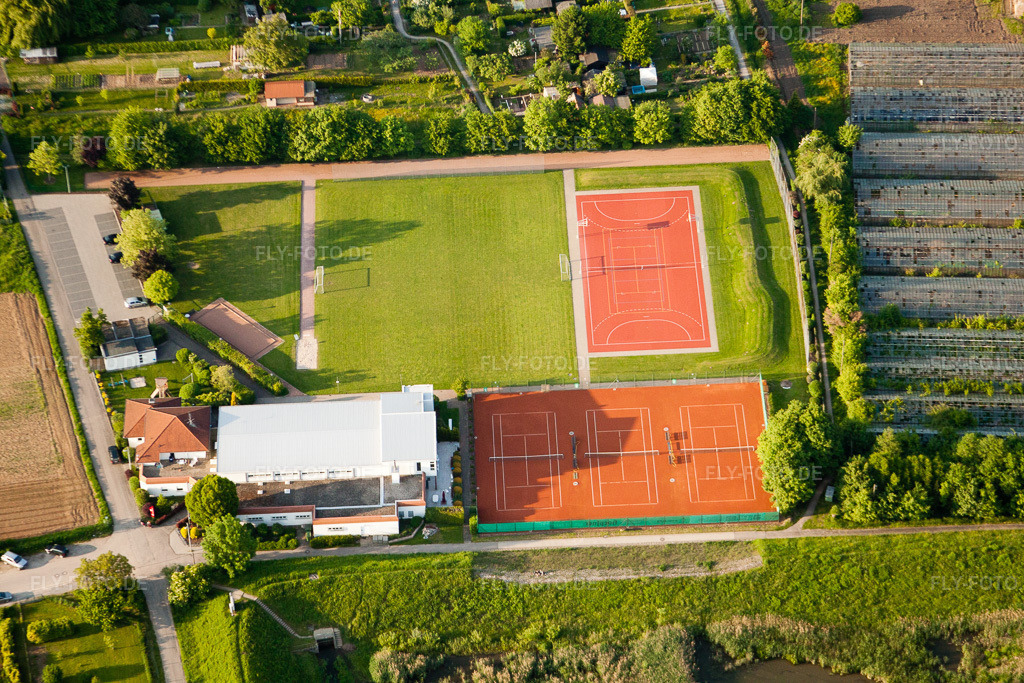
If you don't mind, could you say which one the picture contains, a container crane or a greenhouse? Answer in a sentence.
I can see a greenhouse in this picture.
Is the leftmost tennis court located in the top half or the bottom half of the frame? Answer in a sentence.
The bottom half of the photo is where the leftmost tennis court is.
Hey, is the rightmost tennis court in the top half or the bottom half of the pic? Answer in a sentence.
The bottom half of the photo is where the rightmost tennis court is.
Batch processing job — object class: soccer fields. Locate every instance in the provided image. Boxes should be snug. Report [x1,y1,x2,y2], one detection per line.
[316,170,580,396]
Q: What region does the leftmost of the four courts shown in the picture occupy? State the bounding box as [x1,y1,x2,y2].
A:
[487,407,566,515]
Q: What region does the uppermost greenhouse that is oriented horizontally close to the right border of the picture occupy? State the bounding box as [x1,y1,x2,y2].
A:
[849,42,1024,87]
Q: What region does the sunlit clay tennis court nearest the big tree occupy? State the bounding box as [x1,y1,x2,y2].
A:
[675,399,760,507]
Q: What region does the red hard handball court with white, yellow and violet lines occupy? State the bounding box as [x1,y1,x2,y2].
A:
[576,190,711,353]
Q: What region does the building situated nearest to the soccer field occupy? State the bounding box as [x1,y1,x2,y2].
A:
[215,380,438,486]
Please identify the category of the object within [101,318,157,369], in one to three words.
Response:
house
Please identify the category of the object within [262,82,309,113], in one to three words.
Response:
shed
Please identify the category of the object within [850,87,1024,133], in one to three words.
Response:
greenhouse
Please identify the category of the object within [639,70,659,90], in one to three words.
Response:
building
